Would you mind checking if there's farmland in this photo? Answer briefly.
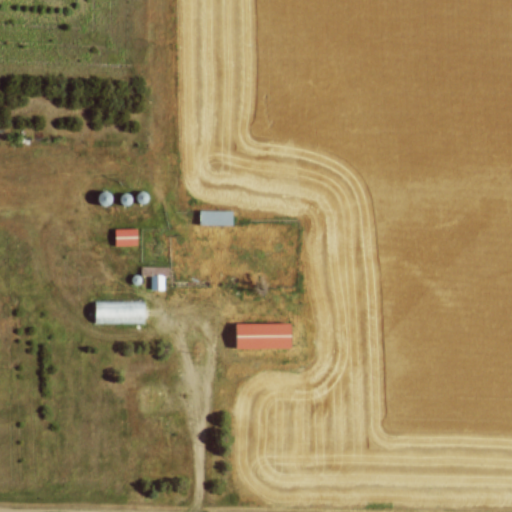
Yes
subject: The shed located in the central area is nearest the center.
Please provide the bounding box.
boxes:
[200,211,234,226]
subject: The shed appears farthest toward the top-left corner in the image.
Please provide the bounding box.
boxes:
[114,229,139,247]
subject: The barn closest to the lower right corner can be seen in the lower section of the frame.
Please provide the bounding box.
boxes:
[236,324,292,350]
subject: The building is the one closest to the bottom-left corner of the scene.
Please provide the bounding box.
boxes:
[95,301,148,325]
